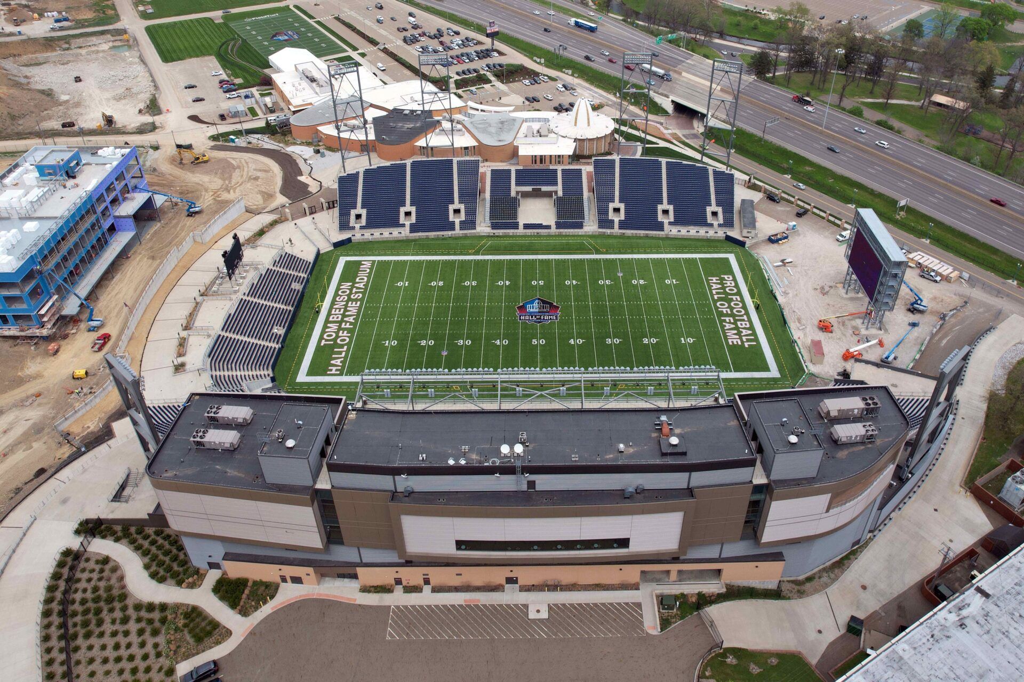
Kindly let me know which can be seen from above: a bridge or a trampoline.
bridge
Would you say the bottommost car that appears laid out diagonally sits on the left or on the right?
left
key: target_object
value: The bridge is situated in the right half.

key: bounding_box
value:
[650,90,732,128]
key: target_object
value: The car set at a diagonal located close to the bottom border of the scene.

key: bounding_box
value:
[183,657,216,682]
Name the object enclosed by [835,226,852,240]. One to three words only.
vehicle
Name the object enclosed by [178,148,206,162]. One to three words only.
work vehicle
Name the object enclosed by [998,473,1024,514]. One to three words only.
cooling tower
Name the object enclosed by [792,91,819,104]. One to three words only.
vehicle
